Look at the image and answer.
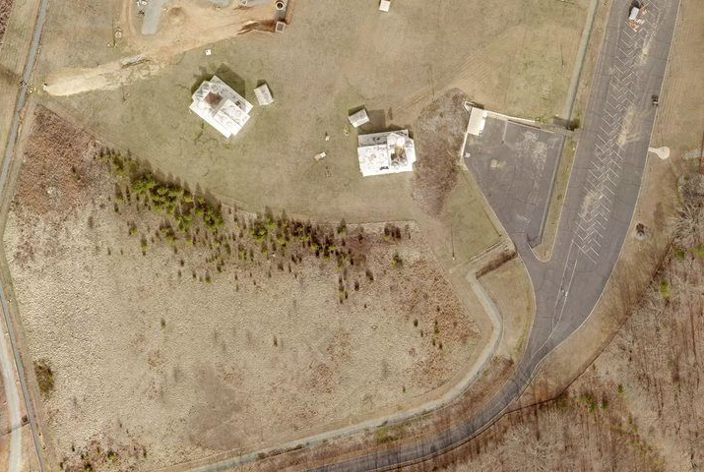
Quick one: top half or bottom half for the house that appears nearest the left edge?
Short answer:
top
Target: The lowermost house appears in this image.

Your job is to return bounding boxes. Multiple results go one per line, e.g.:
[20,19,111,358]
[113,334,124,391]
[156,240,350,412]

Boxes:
[358,130,417,176]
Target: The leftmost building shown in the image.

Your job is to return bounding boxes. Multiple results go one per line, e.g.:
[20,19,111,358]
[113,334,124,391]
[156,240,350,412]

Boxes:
[189,75,253,138]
